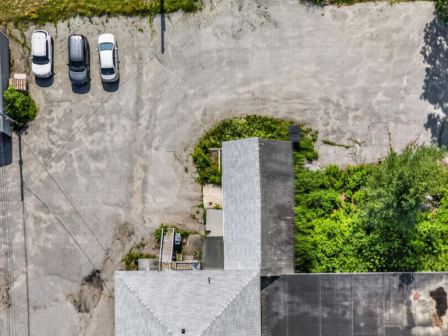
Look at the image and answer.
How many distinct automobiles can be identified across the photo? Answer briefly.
3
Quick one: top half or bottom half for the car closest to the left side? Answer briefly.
top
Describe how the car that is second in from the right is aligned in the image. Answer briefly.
from top to bottom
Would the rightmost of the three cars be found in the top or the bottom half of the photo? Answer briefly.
top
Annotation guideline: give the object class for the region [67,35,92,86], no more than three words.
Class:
car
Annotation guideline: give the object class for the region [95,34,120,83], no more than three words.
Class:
car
